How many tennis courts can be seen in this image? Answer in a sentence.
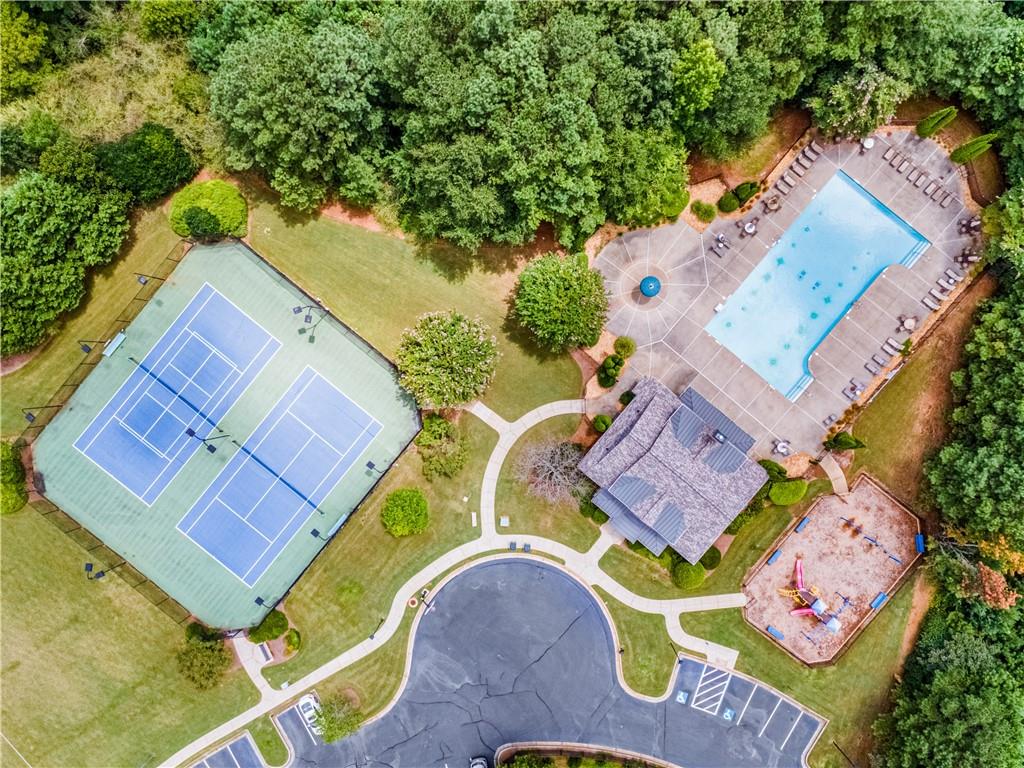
There are 2 tennis courts in the image.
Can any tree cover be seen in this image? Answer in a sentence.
Yes, some tree cover is visible.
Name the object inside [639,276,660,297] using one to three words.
fountain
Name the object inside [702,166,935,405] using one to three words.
swimming pool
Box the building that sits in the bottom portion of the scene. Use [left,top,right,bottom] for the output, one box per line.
[579,379,769,564]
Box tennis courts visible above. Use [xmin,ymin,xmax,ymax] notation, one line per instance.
[177,365,384,589]
[73,281,283,508]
